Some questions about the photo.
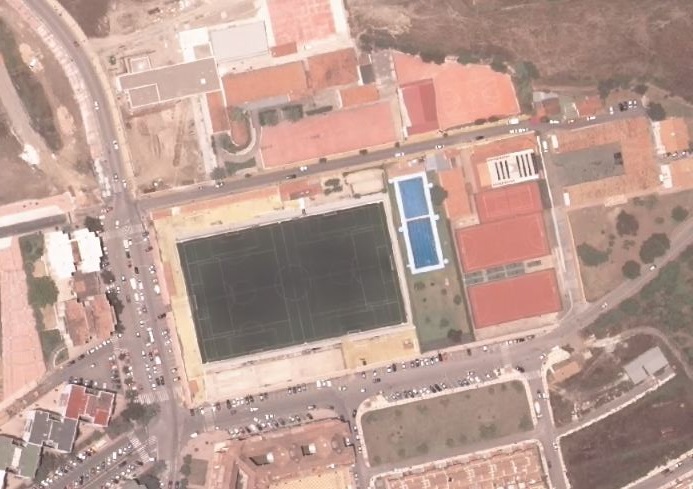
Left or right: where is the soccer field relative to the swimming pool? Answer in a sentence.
From the viewer's perspective, the soccer field falls to the left of the swimming pool.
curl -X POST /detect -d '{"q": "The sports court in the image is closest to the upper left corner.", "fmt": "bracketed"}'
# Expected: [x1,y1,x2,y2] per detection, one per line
[268,0,337,46]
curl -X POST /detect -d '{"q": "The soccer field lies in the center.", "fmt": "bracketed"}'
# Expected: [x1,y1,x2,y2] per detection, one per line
[177,203,408,363]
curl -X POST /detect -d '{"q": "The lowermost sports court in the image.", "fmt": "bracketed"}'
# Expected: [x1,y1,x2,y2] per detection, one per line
[468,269,562,327]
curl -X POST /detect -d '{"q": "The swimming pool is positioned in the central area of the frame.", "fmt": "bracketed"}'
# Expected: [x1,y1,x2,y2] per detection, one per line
[393,172,445,274]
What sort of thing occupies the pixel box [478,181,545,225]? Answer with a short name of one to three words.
tennis court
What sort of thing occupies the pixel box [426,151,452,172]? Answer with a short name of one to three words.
building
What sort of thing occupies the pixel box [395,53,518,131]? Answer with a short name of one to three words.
sports court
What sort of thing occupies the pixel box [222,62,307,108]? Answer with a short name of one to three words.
building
